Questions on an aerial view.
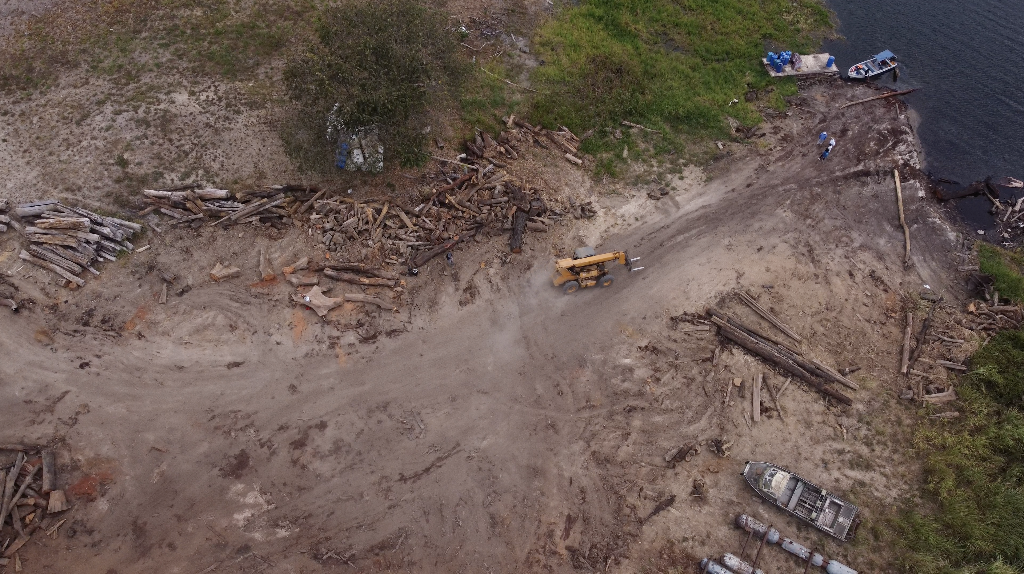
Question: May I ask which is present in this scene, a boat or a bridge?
boat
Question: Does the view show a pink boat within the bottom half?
No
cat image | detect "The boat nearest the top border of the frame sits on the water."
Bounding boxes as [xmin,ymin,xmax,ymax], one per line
[847,48,901,77]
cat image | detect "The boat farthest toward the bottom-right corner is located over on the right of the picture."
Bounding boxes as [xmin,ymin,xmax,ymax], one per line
[741,459,861,543]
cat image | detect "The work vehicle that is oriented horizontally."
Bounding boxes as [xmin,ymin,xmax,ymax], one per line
[552,248,645,297]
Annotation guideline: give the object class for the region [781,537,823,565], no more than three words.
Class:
storage tank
